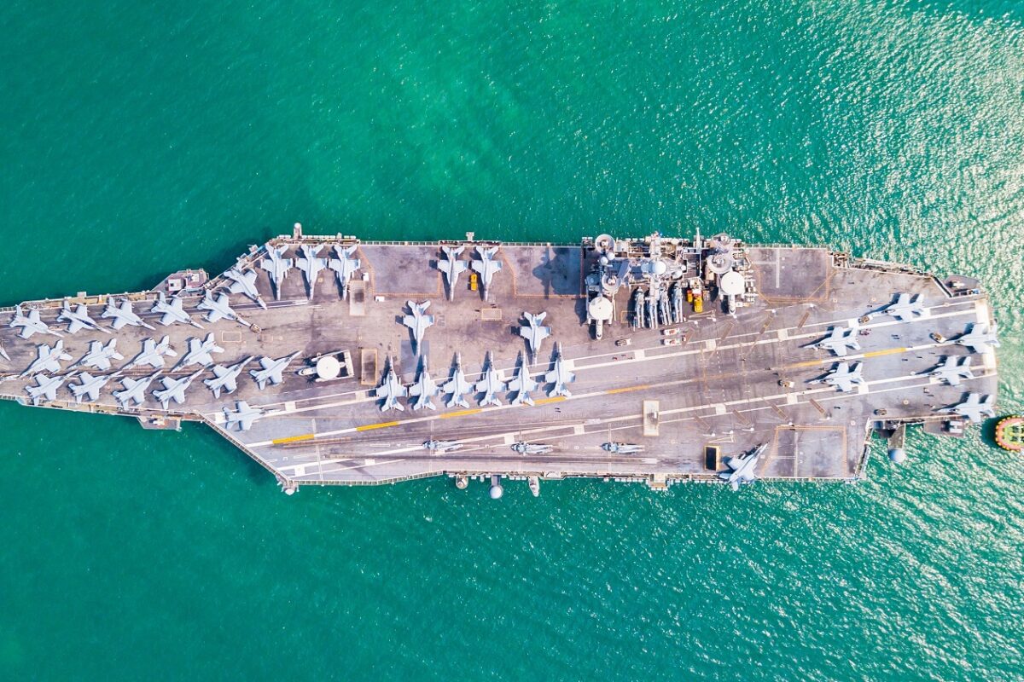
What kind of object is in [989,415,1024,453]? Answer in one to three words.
boat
